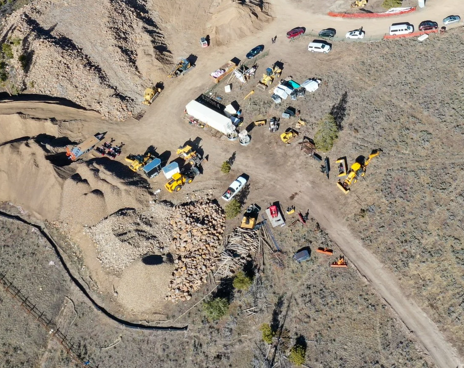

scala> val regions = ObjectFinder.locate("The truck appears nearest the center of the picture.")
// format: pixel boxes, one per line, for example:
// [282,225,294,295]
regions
[222,174,248,197]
